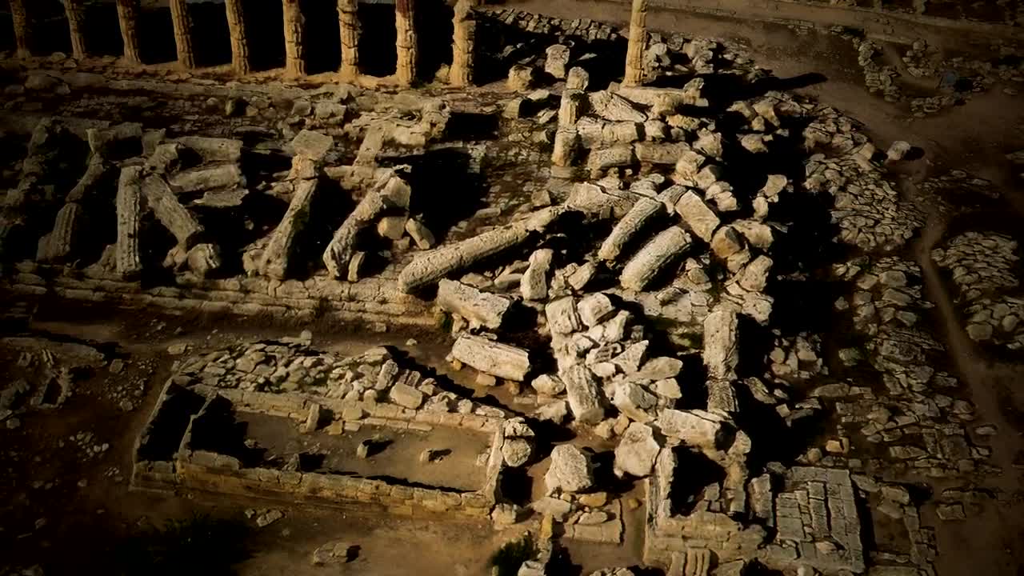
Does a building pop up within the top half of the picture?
No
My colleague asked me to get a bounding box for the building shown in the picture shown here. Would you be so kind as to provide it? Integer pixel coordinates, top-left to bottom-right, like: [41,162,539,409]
[133,376,515,523]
